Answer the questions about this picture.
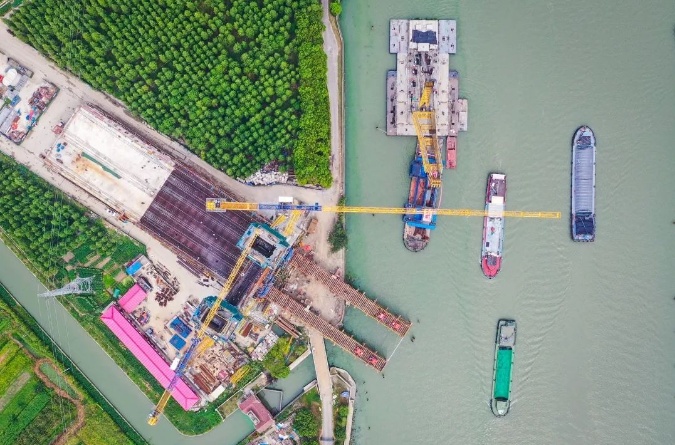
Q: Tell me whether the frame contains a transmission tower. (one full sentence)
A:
Yes, there is a transmission tower in the image.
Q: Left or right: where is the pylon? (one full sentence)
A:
The pylon sits on the left side.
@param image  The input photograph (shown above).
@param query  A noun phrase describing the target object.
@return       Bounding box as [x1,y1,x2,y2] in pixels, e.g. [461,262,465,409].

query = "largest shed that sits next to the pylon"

[101,307,200,411]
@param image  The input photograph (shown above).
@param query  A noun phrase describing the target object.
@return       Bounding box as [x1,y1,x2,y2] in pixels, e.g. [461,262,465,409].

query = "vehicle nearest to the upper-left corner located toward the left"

[48,121,63,135]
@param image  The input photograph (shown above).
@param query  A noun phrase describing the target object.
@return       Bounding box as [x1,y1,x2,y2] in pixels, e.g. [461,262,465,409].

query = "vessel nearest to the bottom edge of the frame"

[490,318,517,419]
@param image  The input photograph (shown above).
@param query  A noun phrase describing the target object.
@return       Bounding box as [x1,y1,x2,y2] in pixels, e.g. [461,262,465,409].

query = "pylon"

[36,275,96,303]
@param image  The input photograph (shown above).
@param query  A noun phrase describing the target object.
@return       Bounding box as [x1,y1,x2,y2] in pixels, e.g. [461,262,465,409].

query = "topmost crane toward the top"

[370,18,459,188]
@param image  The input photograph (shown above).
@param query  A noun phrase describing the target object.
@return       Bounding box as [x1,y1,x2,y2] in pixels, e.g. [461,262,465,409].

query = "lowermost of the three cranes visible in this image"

[144,227,262,424]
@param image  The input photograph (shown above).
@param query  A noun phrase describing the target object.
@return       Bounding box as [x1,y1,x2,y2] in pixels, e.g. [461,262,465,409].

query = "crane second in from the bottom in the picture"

[204,194,564,218]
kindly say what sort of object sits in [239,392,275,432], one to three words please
house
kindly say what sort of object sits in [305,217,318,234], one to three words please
vehicle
